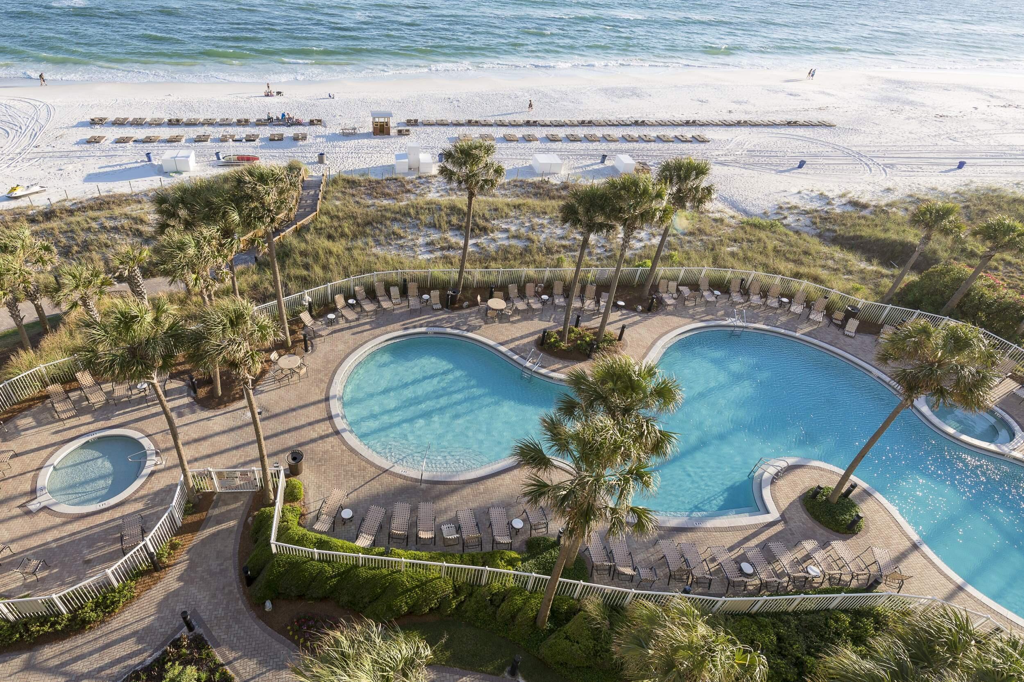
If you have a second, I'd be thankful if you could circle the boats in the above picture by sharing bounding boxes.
[2,181,47,196]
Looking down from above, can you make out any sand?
Yes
